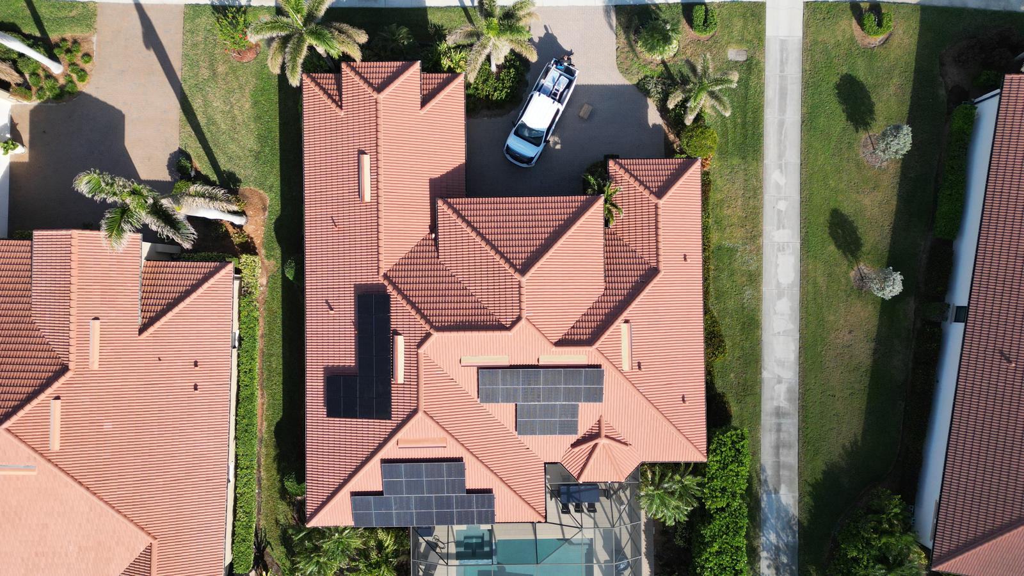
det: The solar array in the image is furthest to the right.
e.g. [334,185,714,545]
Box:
[479,369,604,435]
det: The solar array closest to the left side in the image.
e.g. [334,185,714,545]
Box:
[327,294,391,420]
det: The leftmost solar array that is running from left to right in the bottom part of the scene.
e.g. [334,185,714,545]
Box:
[351,462,495,526]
